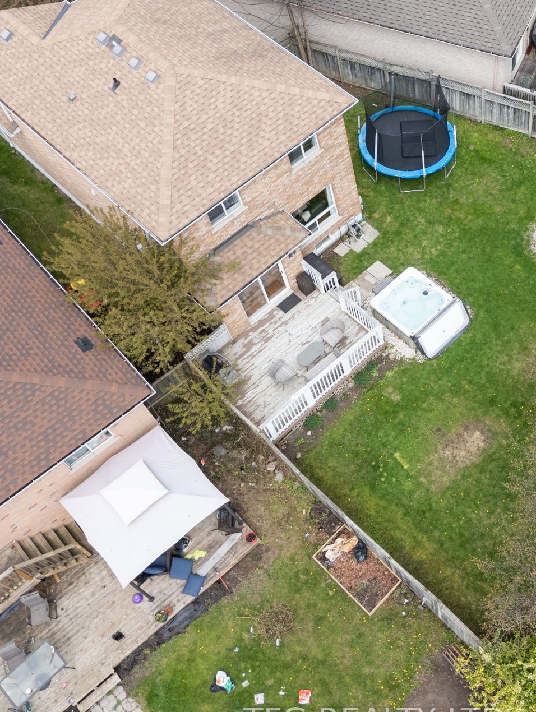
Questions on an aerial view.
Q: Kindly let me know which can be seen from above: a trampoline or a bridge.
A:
trampoline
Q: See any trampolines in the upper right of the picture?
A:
Yes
